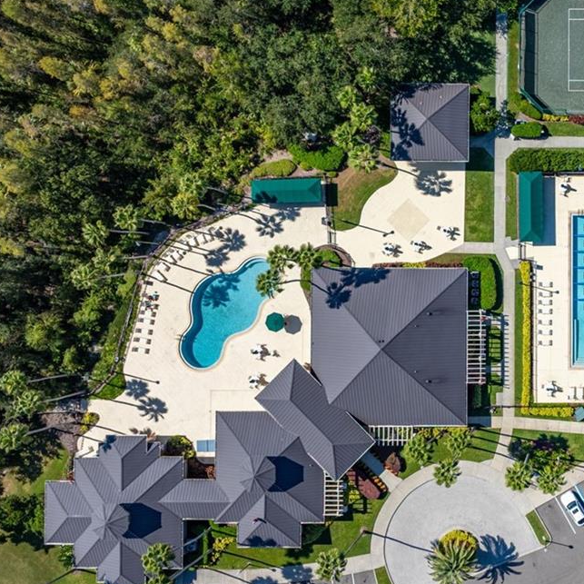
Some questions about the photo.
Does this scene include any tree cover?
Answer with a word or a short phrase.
Yes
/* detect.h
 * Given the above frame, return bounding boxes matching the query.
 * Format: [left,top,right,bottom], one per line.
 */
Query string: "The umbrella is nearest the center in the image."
[266,313,285,331]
